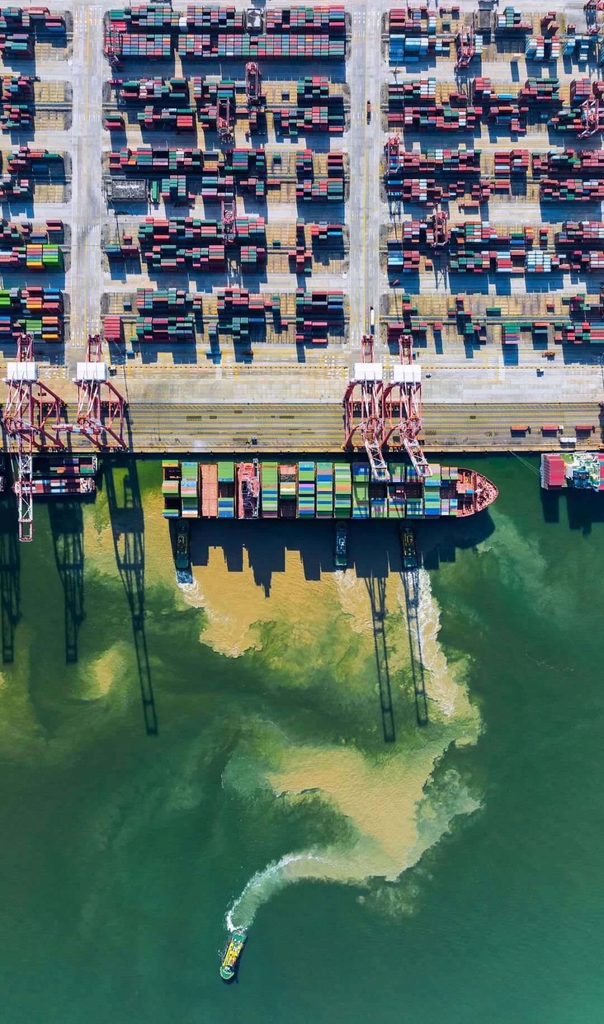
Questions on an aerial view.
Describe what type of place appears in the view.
port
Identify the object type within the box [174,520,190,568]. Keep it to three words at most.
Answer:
boat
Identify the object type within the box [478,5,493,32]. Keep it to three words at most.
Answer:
shed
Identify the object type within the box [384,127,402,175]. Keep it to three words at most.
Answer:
crane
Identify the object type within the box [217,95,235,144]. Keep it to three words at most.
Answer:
crane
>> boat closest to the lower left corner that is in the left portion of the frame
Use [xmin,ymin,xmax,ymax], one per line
[220,930,245,982]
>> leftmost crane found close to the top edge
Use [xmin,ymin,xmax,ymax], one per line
[101,21,123,73]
